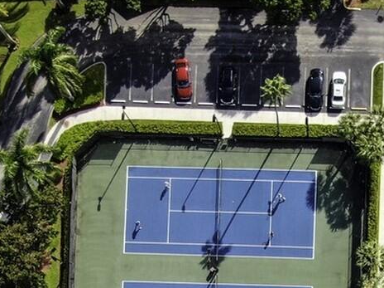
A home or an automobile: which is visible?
automobile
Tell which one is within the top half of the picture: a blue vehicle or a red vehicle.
red vehicle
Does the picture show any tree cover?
Yes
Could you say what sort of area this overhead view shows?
sports ground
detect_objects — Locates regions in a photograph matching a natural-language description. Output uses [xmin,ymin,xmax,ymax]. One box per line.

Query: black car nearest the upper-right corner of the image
[306,71,323,111]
